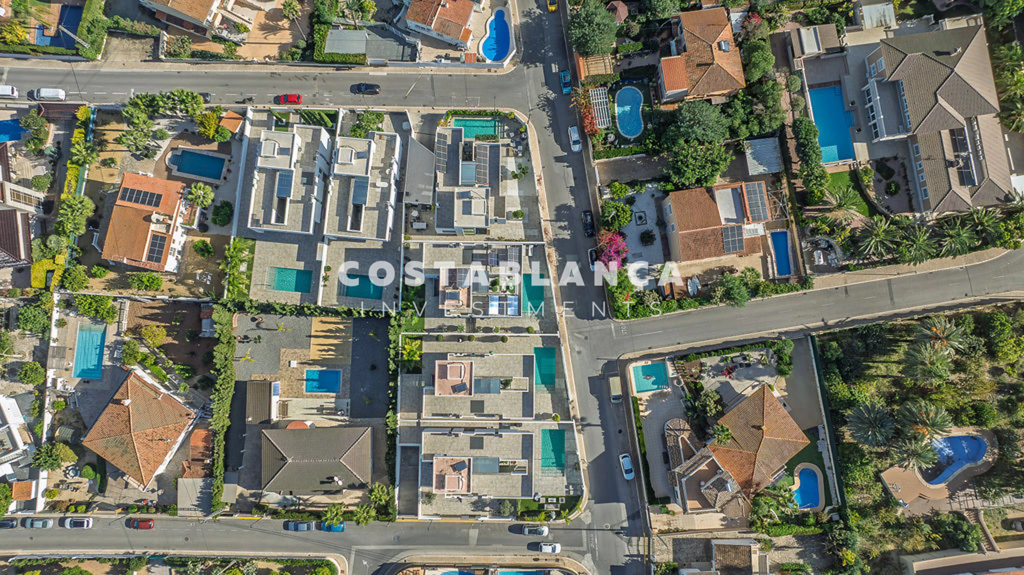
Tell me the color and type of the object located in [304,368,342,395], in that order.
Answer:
blue swimming pool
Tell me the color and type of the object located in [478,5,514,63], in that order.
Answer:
blue swimming pool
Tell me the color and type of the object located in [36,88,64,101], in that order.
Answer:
white vehicle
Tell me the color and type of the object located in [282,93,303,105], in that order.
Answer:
red vehicle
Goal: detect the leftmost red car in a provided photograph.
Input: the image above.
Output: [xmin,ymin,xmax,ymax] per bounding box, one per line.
[132,517,154,530]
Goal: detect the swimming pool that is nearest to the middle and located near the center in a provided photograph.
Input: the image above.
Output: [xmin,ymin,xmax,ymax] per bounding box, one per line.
[522,273,545,319]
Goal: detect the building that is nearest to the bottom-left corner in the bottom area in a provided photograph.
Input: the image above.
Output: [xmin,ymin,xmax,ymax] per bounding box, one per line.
[12,477,41,501]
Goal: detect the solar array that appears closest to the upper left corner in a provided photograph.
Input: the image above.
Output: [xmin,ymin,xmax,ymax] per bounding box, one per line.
[120,187,162,202]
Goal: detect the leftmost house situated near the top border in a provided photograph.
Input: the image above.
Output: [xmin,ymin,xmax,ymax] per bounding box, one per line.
[145,0,220,39]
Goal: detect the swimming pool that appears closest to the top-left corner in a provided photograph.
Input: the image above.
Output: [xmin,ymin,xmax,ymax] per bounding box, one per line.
[34,4,82,48]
